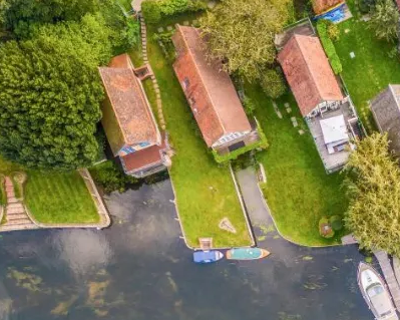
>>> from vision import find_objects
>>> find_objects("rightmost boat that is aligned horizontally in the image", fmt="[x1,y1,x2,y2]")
[226,245,270,261]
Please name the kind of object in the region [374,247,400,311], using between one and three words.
pier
